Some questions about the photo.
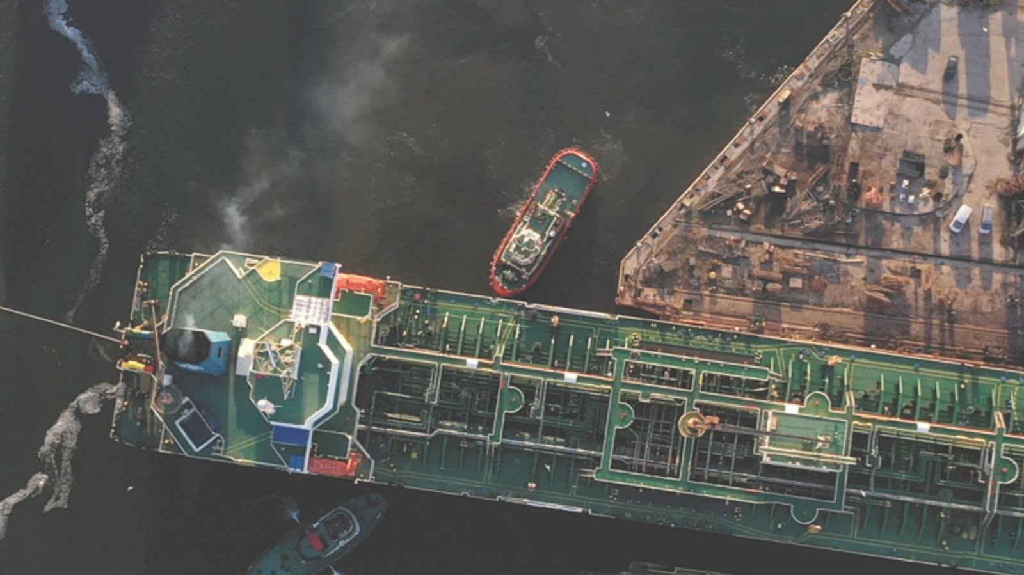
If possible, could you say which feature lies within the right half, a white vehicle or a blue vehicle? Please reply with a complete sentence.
It is a white vehicle that can be seen within the right half.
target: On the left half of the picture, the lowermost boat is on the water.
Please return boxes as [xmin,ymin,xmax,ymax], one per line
[246,489,397,575]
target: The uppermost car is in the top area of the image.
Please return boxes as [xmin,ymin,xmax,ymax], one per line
[942,54,960,81]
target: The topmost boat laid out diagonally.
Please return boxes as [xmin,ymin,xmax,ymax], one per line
[489,148,600,298]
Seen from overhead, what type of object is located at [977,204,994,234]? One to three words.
vehicle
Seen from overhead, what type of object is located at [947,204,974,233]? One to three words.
vehicle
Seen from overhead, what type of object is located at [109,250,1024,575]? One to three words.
ship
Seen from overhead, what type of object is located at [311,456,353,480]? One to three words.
boat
